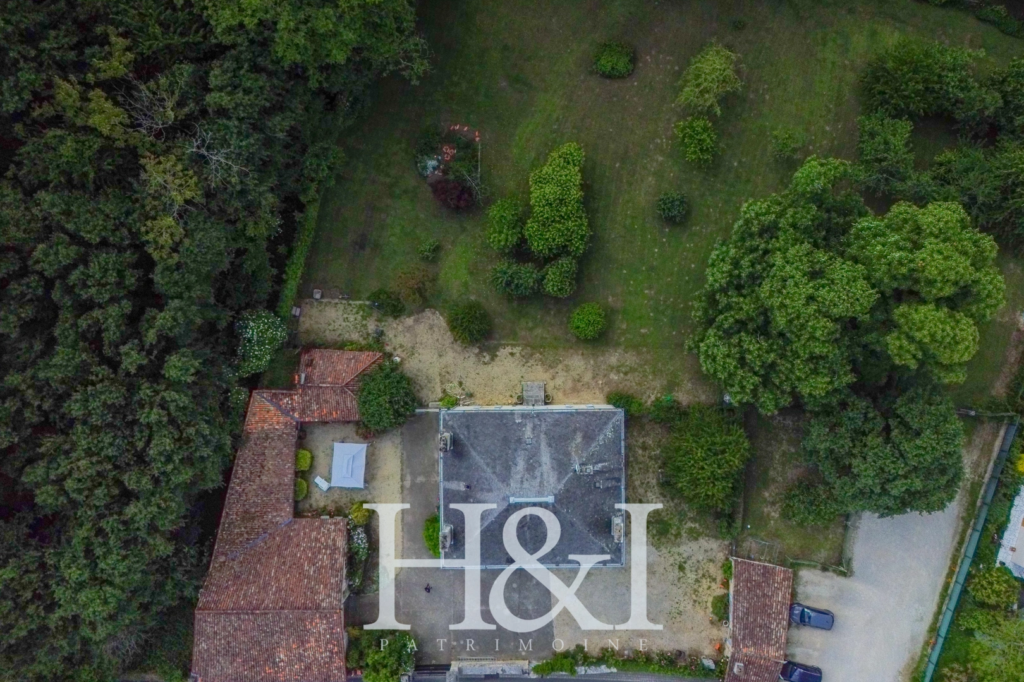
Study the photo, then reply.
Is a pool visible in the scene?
No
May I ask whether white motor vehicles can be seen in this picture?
No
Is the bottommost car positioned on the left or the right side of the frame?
right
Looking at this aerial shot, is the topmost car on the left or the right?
right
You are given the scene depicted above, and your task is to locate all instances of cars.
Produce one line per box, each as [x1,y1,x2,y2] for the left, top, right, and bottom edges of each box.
[790,602,835,629]
[781,660,823,682]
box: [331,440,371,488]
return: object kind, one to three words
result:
gazebo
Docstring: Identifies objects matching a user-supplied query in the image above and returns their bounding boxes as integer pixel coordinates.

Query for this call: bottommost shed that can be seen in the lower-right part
[716,554,793,682]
